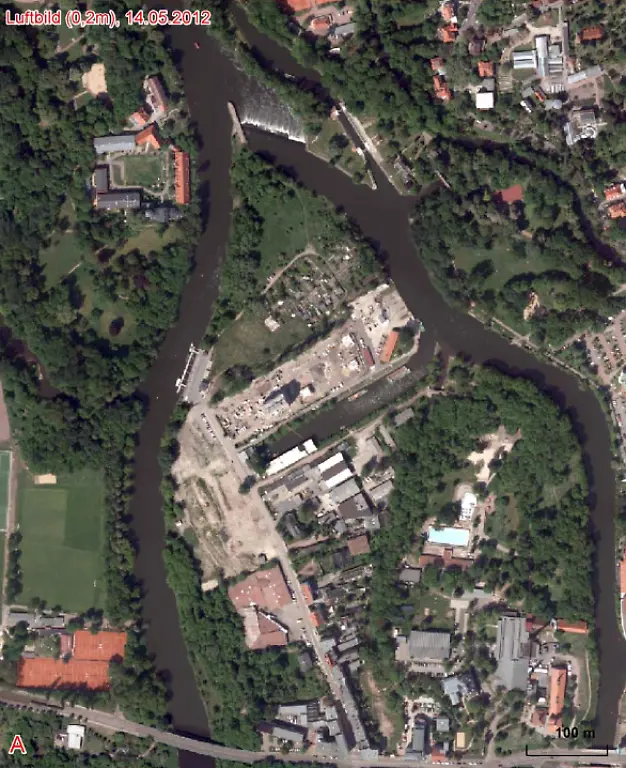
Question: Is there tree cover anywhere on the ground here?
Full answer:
Yes, tree cover shows up in the scene.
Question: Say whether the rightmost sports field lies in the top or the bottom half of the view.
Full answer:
The rightmost sports field is in the bottom half of the image.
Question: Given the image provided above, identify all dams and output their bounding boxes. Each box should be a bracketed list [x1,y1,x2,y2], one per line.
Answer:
[231,62,305,142]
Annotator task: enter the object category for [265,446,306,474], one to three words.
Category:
building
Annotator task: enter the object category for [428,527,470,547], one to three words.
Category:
swimming pool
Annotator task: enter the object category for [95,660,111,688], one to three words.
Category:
tennis court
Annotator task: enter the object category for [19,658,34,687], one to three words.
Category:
tennis court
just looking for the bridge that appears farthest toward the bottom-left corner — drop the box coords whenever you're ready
[157,729,220,758]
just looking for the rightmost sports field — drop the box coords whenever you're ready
[16,466,106,609]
